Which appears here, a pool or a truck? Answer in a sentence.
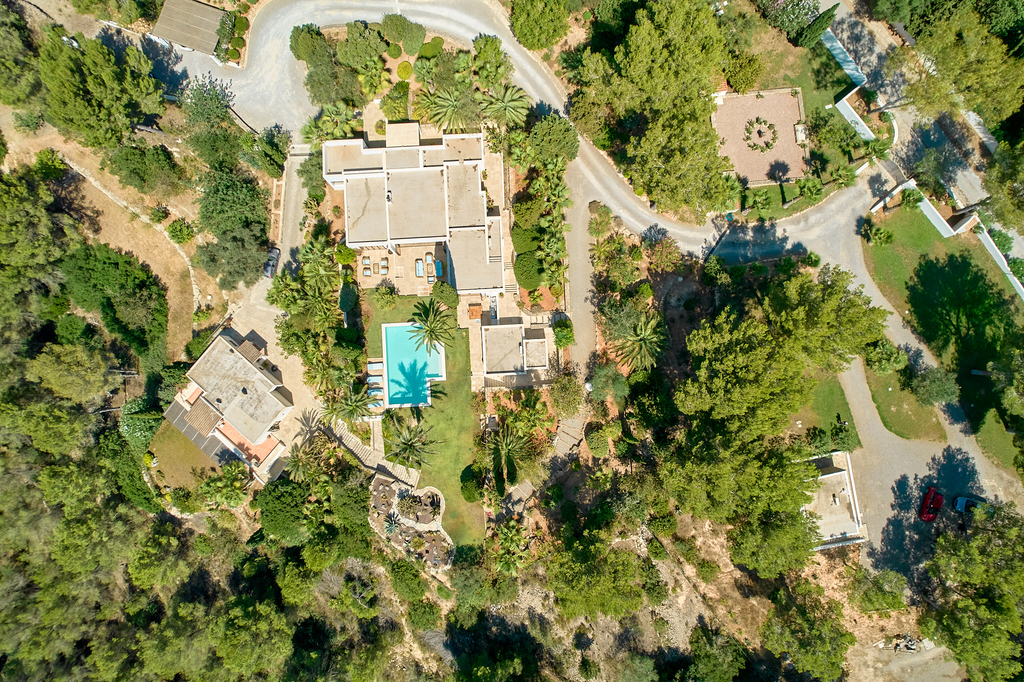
The image shows a pool.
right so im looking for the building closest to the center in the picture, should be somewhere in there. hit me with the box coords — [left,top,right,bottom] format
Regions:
[482,325,548,376]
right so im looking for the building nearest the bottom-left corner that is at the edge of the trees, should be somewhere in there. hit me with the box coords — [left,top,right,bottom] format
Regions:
[174,335,295,480]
